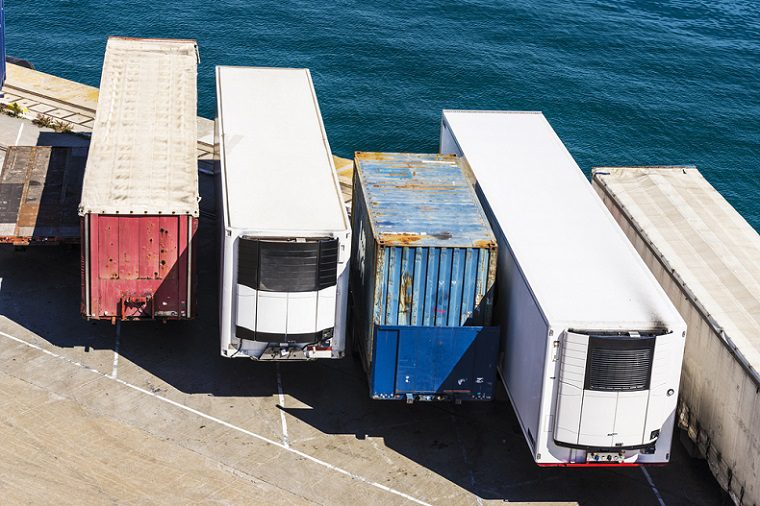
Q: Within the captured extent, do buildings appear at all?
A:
No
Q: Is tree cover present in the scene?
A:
No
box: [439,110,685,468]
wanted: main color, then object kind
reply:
white trailer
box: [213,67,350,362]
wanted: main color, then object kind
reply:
white trailer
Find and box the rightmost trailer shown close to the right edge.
[589,166,760,506]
